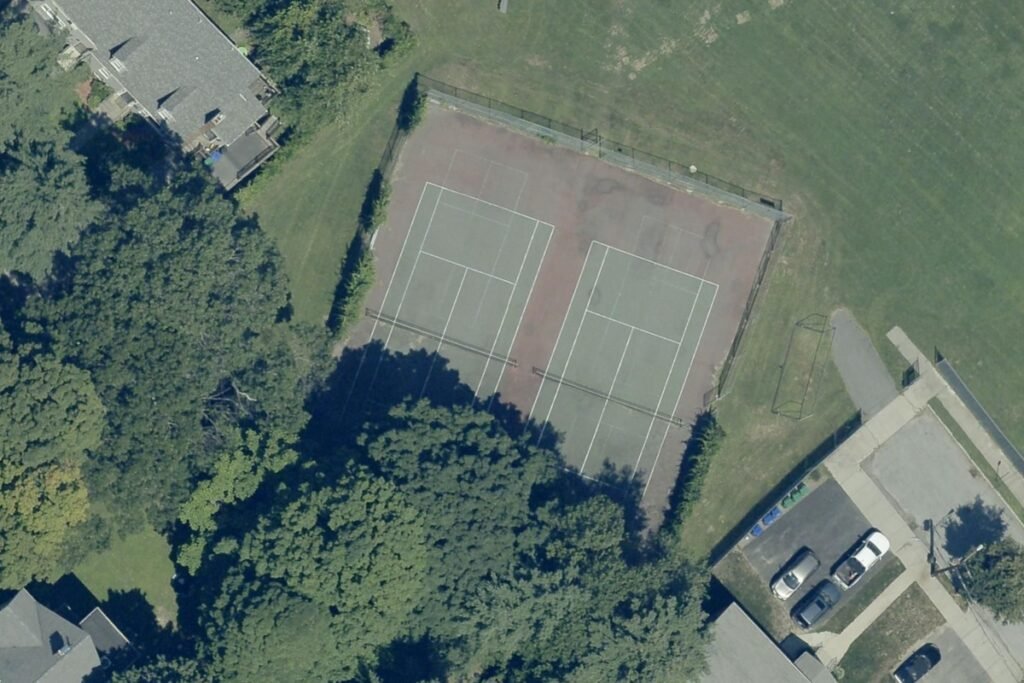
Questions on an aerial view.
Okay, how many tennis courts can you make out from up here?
2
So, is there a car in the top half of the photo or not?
No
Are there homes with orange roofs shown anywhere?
No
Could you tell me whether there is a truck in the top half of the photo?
No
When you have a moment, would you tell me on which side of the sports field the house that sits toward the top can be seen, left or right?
to the left of it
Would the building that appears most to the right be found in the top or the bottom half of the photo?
bottom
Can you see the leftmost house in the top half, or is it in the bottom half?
bottom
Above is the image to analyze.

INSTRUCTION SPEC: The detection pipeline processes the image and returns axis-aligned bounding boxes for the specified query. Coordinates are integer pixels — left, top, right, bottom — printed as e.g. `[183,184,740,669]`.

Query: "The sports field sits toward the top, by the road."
[540,0,1024,461]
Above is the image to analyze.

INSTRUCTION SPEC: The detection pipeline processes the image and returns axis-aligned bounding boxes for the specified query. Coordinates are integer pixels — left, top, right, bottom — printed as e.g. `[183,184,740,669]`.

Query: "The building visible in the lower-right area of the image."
[706,601,841,683]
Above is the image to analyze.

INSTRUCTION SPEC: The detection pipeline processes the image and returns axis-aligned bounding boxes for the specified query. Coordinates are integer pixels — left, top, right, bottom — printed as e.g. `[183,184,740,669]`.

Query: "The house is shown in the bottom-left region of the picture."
[0,588,131,683]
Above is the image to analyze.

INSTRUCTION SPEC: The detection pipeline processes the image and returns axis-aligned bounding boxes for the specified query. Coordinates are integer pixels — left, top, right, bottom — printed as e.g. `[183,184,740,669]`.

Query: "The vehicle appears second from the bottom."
[792,582,842,634]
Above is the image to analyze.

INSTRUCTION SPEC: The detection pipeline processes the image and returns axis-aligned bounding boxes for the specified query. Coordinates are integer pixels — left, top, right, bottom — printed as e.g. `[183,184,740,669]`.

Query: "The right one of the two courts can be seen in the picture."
[504,216,719,538]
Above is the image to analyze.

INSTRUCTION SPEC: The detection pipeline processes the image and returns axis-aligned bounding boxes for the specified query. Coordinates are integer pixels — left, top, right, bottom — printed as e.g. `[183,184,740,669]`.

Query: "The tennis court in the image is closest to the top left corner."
[332,151,554,472]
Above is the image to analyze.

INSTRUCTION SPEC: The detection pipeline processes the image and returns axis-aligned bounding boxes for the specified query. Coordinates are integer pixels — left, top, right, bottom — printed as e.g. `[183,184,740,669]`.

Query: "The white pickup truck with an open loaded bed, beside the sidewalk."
[831,533,891,593]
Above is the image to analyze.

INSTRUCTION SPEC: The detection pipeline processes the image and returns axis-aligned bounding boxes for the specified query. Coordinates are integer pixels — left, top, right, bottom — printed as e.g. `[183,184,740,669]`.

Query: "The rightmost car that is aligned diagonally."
[894,645,944,683]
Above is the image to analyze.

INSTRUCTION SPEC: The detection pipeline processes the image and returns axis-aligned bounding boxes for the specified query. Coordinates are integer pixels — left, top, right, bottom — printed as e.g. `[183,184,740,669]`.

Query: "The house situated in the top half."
[32,0,285,192]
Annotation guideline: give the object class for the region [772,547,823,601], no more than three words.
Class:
car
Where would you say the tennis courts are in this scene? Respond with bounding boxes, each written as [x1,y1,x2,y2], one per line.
[332,151,554,472]
[504,216,719,538]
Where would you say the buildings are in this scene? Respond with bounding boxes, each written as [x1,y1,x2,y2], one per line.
[706,601,841,683]
[0,588,131,683]
[32,0,285,192]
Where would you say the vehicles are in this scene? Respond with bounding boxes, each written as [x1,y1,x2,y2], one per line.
[831,533,891,593]
[792,582,842,634]
[772,547,823,601]
[894,645,944,683]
